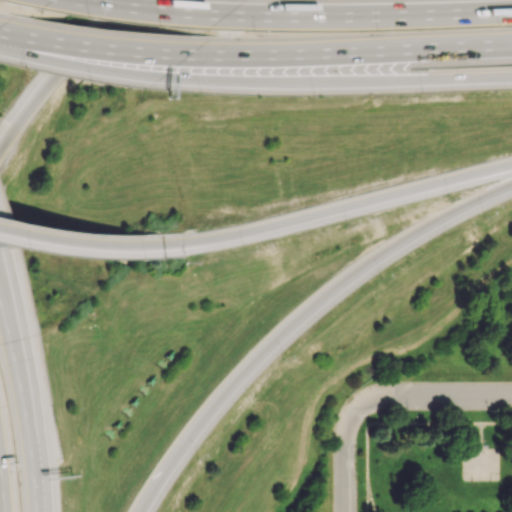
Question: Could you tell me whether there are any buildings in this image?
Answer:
No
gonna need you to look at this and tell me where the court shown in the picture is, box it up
[463,446,500,481]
